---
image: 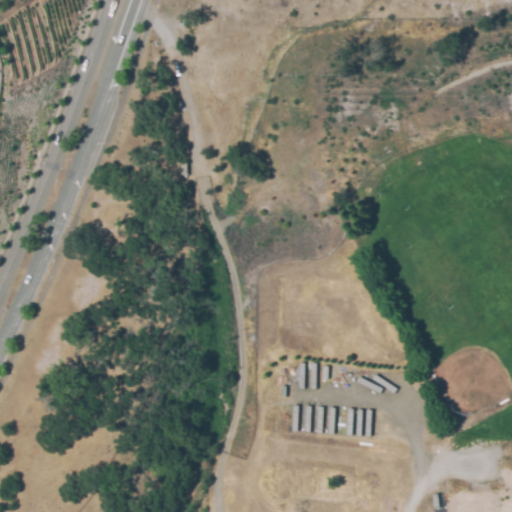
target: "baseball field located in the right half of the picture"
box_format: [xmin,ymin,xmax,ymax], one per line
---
[346,133,512,448]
